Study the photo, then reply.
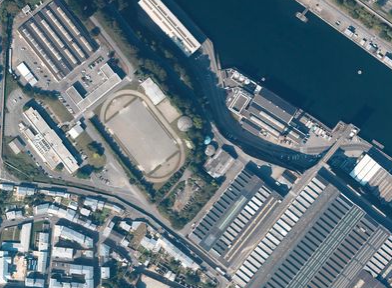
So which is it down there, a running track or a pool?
running track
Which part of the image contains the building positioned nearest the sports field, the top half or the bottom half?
top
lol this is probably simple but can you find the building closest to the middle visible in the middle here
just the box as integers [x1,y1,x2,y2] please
[203,149,233,178]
